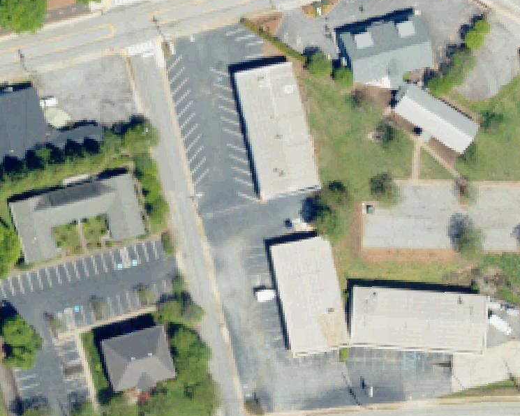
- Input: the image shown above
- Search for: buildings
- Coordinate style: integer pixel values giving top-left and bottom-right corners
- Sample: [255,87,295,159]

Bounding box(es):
[270,235,349,358]
[101,325,176,393]
[0,87,49,159]
[396,84,480,154]
[349,286,487,358]
[9,174,145,262]
[338,16,433,88]
[234,62,322,201]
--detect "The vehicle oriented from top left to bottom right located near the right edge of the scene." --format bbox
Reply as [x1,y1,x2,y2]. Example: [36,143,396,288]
[487,311,512,334]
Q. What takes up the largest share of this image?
paved ground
